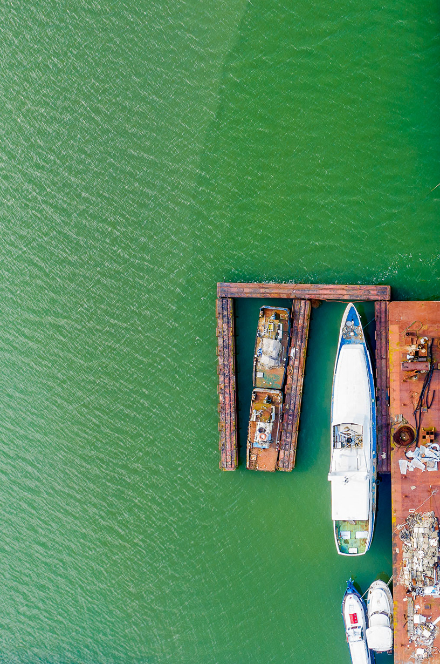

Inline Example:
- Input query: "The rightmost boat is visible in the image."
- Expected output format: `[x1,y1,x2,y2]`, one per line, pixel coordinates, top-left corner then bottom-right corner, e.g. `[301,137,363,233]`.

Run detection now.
[366,579,393,656]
